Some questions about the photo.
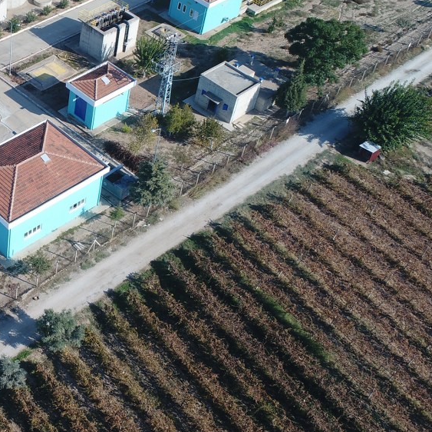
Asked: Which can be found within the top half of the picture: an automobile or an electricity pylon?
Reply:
electricity pylon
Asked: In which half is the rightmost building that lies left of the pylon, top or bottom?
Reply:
top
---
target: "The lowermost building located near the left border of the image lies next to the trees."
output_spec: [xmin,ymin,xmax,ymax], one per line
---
[0,120,110,258]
